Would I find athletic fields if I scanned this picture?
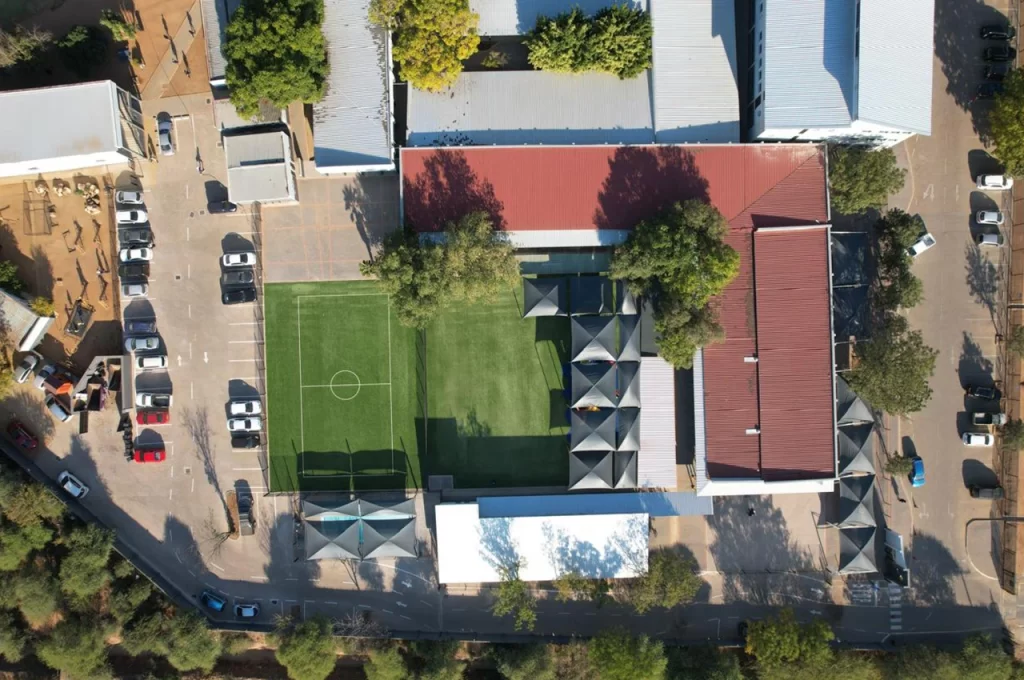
Yes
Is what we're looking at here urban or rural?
urban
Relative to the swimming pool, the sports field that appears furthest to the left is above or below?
above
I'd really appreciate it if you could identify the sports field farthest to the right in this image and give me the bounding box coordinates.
[417,273,642,491]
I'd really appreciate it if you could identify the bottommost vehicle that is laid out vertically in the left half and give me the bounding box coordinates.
[237,495,254,532]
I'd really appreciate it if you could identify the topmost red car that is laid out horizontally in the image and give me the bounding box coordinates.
[137,410,171,425]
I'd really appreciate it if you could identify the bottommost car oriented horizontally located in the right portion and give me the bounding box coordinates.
[967,485,1001,500]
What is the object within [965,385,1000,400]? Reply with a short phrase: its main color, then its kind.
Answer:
black car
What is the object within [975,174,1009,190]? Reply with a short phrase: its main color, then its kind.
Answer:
white car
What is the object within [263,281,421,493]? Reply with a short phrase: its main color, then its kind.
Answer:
green sports field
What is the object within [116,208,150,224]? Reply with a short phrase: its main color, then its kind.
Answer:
white car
